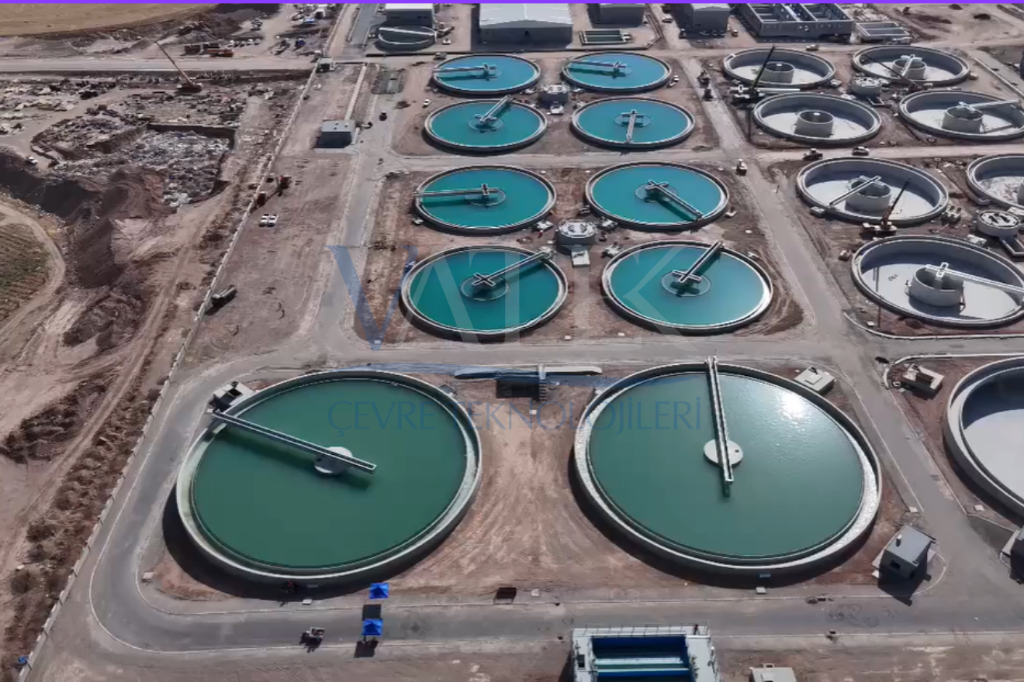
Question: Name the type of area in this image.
industrial area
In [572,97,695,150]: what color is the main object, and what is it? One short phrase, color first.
blue storage tank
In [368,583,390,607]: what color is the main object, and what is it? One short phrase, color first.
blue gazebo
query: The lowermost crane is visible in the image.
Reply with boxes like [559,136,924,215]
[860,182,909,235]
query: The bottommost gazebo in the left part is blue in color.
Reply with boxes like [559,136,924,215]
[361,618,385,642]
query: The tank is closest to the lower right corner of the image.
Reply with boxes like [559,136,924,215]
[943,356,1024,523]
